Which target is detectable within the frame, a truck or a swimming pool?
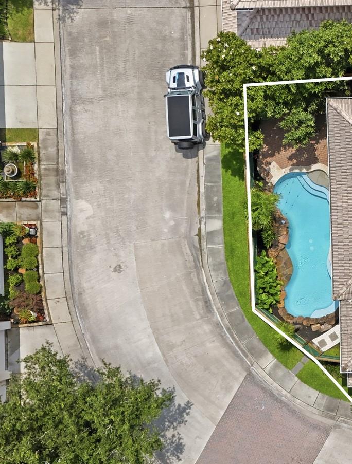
swimming pool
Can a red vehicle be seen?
No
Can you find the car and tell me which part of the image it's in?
top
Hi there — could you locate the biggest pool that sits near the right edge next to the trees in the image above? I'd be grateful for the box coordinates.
[269,160,340,318]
